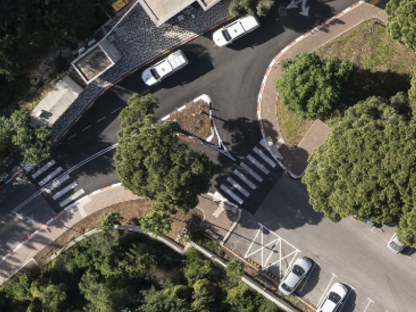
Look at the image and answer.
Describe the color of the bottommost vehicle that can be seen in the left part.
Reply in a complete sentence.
The bottommost vehicle that can be seen in the left part looks white in the image.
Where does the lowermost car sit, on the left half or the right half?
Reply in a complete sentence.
You can find the lowermost car on the right side of the picture.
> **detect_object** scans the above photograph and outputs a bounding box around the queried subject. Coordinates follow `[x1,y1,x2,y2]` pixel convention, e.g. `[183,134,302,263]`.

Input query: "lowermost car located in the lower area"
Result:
[316,279,349,312]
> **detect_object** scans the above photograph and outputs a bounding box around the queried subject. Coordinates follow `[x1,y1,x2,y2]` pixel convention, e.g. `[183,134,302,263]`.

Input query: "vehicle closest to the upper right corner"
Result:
[210,13,260,49]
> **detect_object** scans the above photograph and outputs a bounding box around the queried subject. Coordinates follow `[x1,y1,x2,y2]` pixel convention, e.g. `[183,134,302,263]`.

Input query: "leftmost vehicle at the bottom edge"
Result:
[278,252,313,298]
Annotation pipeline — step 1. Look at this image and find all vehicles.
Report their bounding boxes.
[316,279,349,312]
[278,252,313,298]
[388,228,415,252]
[141,49,191,85]
[210,13,260,49]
